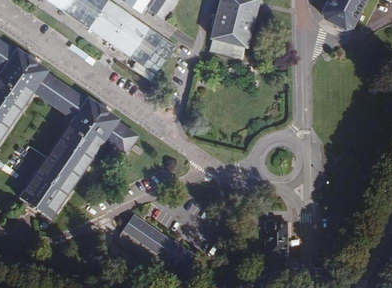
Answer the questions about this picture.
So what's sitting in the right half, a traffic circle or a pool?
traffic circle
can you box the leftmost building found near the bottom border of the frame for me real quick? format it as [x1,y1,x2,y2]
[120,212,202,278]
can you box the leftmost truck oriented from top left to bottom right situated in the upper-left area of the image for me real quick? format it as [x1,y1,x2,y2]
[68,42,96,64]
